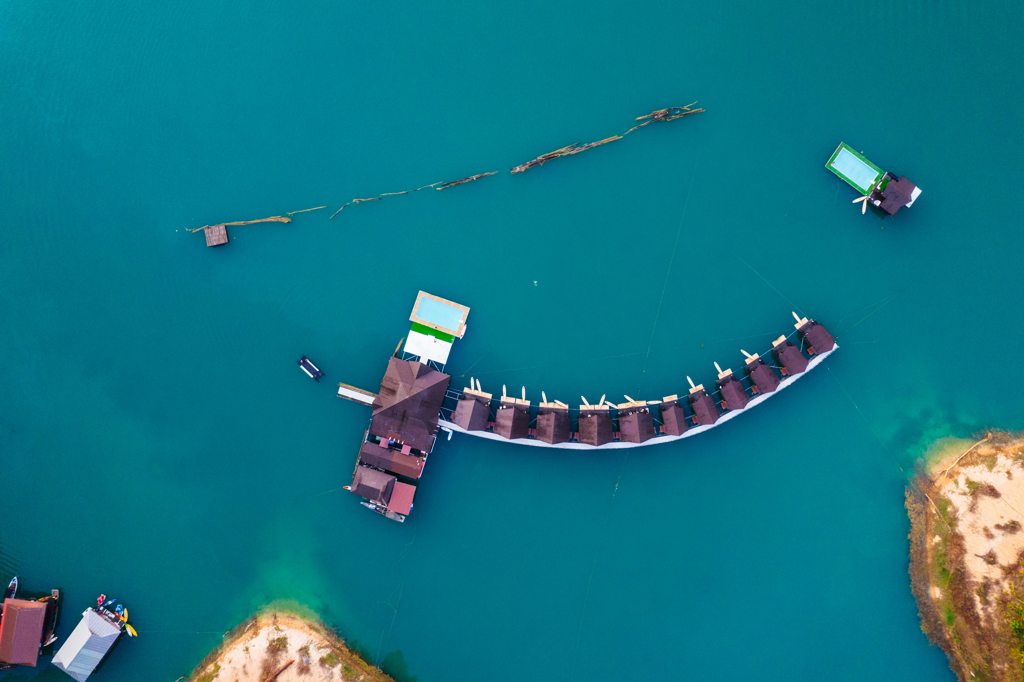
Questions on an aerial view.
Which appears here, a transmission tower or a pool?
pool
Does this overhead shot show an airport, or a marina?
marina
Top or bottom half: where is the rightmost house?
top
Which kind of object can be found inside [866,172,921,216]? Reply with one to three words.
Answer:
house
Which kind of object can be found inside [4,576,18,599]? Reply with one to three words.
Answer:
boat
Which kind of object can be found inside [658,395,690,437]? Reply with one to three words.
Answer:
building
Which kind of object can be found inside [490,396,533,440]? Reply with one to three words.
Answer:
building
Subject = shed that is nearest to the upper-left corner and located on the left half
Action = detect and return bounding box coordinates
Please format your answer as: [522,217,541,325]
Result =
[204,225,229,246]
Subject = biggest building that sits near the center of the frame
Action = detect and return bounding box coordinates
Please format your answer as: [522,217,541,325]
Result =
[365,356,451,453]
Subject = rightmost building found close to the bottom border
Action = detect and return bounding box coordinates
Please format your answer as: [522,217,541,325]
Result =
[51,605,127,682]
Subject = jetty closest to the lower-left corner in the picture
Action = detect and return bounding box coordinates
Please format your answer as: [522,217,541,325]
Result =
[338,385,377,404]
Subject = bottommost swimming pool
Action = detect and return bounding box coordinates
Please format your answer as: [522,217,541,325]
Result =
[409,290,470,338]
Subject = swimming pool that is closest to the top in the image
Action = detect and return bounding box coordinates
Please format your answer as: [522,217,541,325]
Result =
[824,142,885,196]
